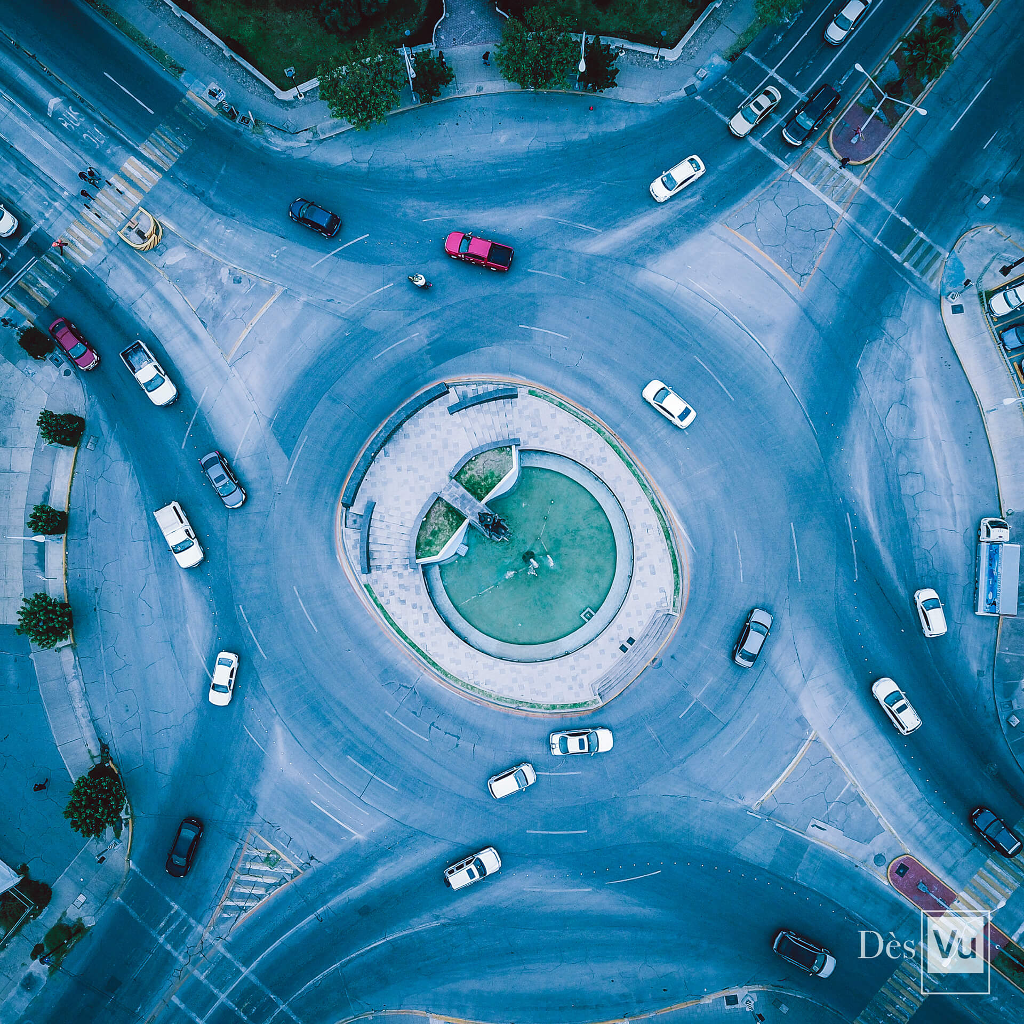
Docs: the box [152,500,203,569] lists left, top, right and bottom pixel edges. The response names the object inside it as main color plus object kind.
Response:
white vehicle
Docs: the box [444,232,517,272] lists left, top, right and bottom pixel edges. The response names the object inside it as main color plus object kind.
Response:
pink vehicle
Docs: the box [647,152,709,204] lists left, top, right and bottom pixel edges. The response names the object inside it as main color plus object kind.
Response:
white car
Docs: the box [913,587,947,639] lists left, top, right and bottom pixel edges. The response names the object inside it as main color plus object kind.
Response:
white car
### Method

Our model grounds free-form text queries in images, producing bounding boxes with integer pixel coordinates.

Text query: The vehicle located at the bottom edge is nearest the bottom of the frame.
[772,930,837,978]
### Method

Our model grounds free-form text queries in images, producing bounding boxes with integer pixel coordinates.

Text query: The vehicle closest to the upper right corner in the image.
[824,0,869,48]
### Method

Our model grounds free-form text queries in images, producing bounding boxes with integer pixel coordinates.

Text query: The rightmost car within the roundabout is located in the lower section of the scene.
[734,607,770,669]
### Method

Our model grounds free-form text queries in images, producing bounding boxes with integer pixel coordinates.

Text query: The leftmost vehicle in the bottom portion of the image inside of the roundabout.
[485,762,538,800]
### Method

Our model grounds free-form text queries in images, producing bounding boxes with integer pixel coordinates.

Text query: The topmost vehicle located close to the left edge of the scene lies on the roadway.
[0,207,20,241]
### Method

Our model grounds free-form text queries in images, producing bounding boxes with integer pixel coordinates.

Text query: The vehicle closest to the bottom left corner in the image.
[167,816,205,878]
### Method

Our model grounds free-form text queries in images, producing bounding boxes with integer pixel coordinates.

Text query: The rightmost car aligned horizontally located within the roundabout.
[550,727,614,757]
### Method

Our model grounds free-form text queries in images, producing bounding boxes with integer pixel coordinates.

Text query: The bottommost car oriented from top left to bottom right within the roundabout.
[640,378,700,431]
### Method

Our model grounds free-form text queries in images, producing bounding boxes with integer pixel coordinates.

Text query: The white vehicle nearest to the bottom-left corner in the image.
[207,650,241,707]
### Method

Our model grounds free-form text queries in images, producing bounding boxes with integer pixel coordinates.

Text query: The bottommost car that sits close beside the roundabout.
[443,846,503,893]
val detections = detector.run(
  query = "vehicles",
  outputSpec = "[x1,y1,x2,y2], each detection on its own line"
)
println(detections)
[0,207,20,241]
[913,587,947,639]
[118,338,177,406]
[872,675,924,739]
[167,816,205,878]
[734,607,770,669]
[287,198,344,238]
[729,82,784,141]
[443,846,503,893]
[772,930,837,978]
[200,448,246,510]
[784,79,840,148]
[640,378,700,431]
[997,321,1024,352]
[647,152,709,204]
[550,727,614,757]
[207,650,241,707]
[824,0,869,48]
[48,314,100,372]
[444,232,517,272]
[974,517,1020,618]
[152,500,203,569]
[984,279,1024,319]
[485,762,538,800]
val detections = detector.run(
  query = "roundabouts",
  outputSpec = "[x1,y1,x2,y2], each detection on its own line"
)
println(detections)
[238,270,788,821]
